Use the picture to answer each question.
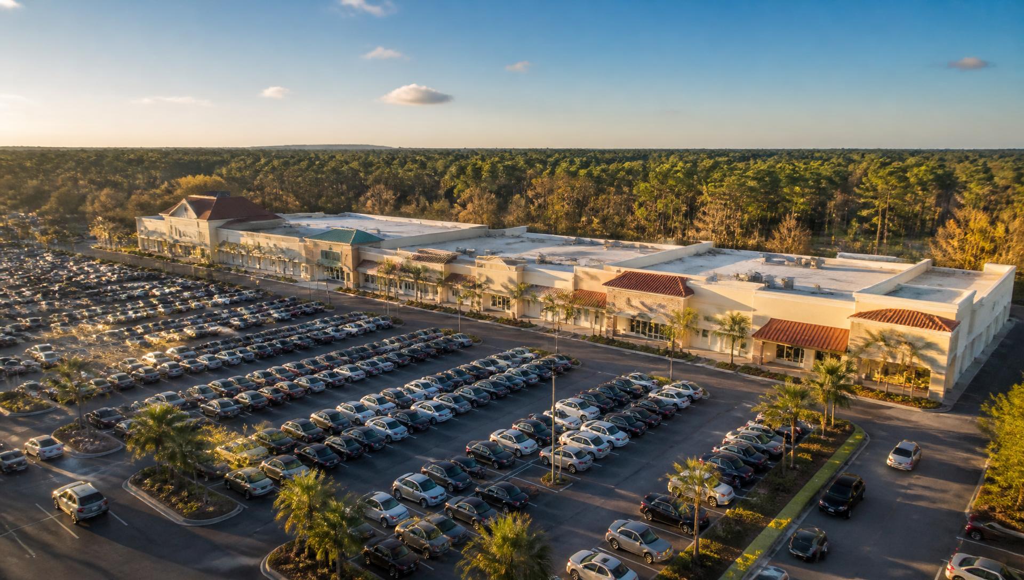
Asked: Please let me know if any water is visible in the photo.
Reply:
No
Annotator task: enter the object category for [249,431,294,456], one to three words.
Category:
car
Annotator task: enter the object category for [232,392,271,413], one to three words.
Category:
car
